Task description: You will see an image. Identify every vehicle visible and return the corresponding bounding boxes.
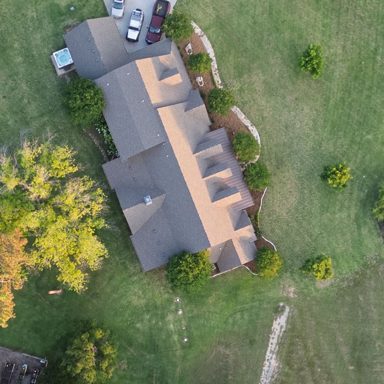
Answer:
[110,0,125,18]
[147,0,170,44]
[126,7,143,41]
